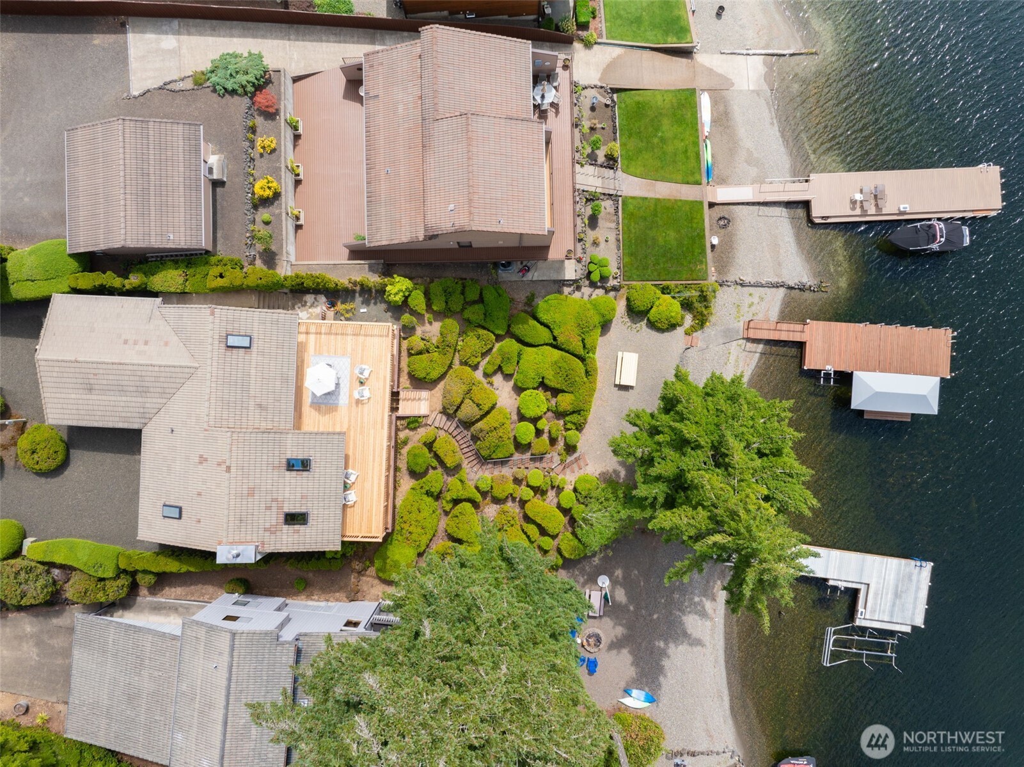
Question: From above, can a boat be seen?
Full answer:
Yes, the frame does contain a boat.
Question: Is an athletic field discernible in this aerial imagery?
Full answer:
No, there appears to be no athletic field in this shot.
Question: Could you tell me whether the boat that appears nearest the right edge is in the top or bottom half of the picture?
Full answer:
The boat that appears nearest the right edge is in the top half of the image.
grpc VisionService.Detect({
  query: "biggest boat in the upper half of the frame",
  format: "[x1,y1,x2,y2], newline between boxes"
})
[880,212,966,257]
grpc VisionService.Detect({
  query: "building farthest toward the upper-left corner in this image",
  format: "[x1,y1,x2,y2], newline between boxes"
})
[63,117,213,254]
